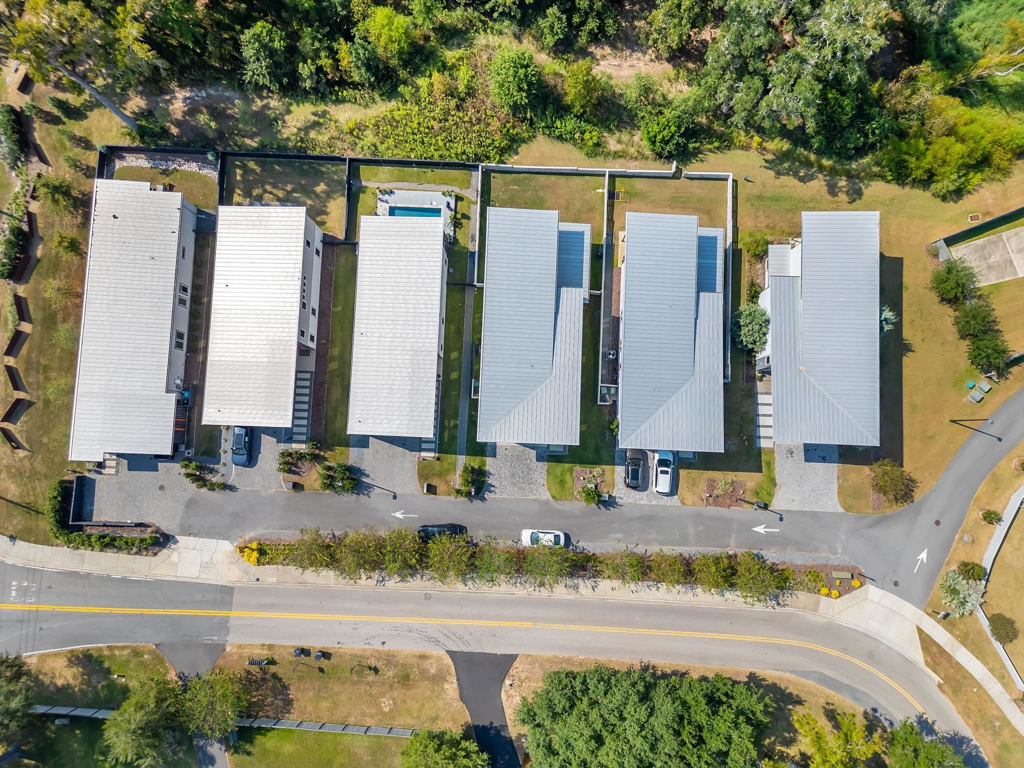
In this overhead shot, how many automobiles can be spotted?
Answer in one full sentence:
The picture shows 5 automobiles.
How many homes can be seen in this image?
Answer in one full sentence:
The picture shows 6 homes.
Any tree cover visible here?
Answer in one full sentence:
Yes, the picture does contain tree cover.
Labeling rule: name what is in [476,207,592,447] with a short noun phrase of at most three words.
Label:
house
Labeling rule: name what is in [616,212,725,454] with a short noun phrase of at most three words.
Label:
house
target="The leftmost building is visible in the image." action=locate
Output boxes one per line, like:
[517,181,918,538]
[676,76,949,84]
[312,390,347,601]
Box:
[65,179,196,461]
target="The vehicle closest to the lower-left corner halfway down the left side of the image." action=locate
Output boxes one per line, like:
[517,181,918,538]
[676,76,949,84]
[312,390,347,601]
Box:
[228,427,256,468]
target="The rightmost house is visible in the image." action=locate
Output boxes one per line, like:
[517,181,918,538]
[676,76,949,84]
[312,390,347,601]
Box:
[756,210,882,447]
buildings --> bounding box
[65,179,196,461]
[756,210,882,447]
[346,215,448,440]
[616,212,725,454]
[200,206,323,428]
[476,207,592,447]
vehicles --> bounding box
[228,427,256,468]
[520,526,565,549]
[650,451,674,495]
[417,522,468,545]
[622,450,644,491]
